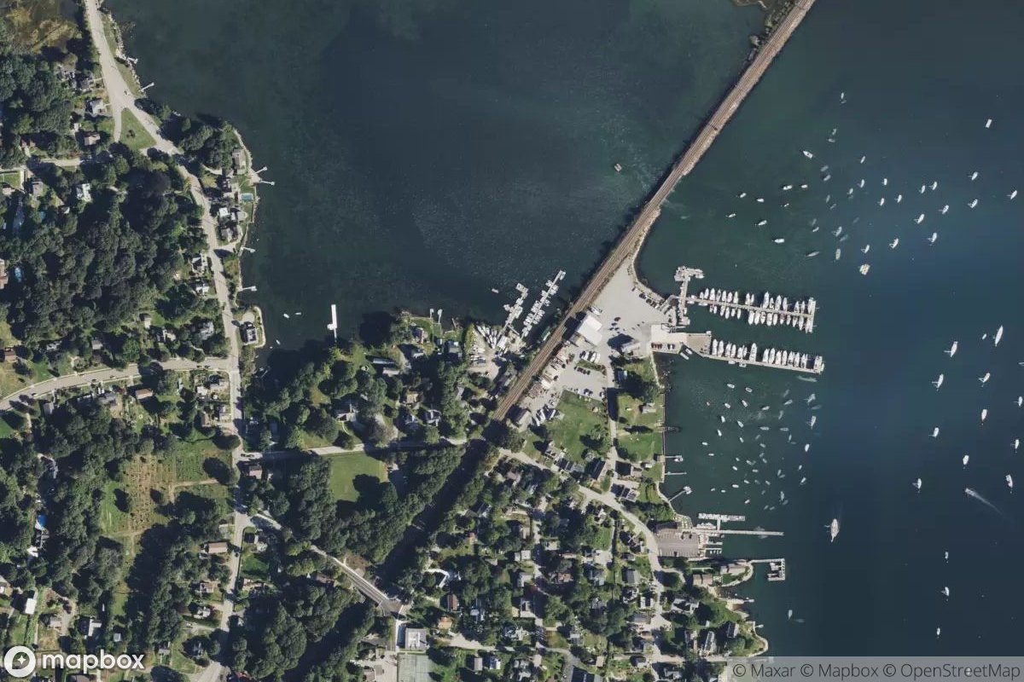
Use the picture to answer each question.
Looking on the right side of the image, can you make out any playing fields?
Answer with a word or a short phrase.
No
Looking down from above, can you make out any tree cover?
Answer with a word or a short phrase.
Yes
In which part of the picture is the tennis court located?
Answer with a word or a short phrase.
bottom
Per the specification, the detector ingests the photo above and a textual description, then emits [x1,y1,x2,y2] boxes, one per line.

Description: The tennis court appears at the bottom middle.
[396,655,433,682]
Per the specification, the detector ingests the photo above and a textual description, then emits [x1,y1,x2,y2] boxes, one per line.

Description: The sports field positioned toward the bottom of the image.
[328,452,387,503]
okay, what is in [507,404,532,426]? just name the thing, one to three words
barn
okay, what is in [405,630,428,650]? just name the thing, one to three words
building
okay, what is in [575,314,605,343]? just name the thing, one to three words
shed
